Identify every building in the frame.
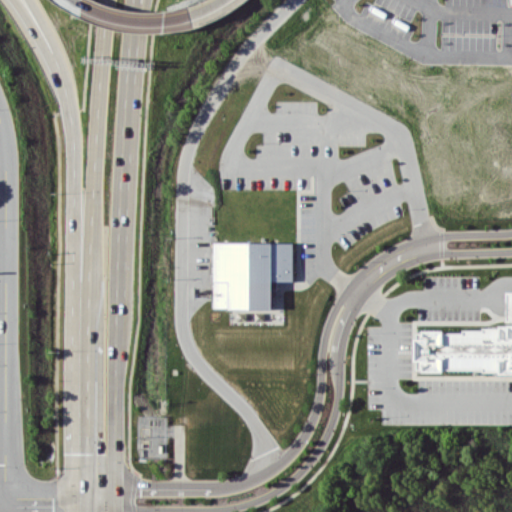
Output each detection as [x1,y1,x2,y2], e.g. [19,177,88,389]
[414,325,512,376]
[213,244,294,310]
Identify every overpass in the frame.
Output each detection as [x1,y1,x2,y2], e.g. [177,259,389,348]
[50,0,256,34]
